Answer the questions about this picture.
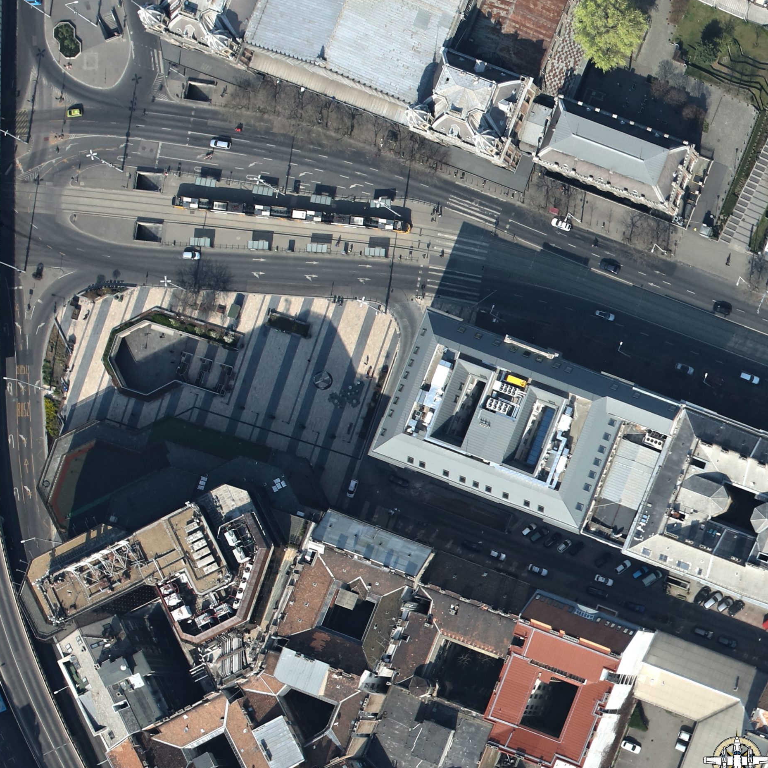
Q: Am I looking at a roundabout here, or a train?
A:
train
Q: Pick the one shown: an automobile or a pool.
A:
automobile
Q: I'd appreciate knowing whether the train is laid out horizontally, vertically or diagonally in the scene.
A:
horizontally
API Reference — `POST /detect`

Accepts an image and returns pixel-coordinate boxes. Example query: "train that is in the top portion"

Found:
[174,196,416,235]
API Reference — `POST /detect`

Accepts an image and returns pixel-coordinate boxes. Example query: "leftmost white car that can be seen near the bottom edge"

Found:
[623,740,643,754]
